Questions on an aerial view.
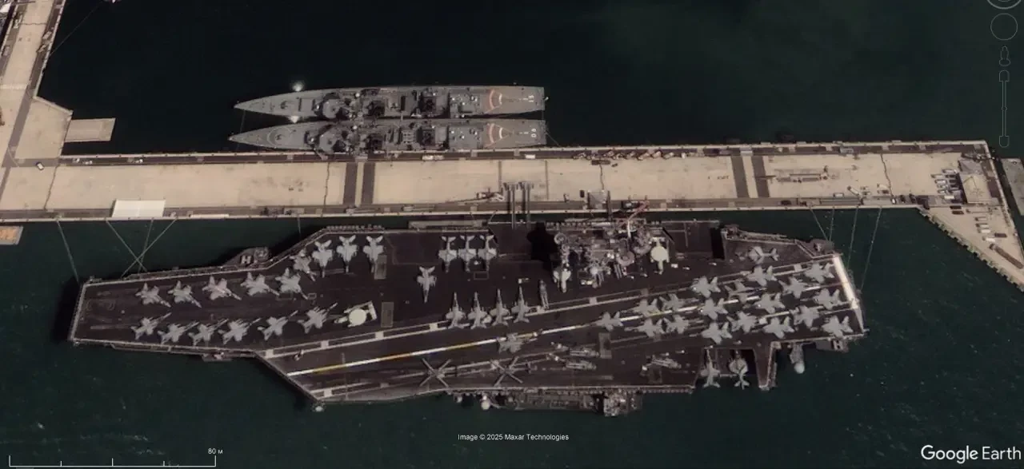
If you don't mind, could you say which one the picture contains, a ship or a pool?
ship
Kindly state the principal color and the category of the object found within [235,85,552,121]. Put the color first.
gray ship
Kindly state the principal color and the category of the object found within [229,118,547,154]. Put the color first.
gray ship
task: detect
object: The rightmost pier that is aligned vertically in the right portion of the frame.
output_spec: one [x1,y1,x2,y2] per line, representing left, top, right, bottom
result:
[1002,158,1024,218]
